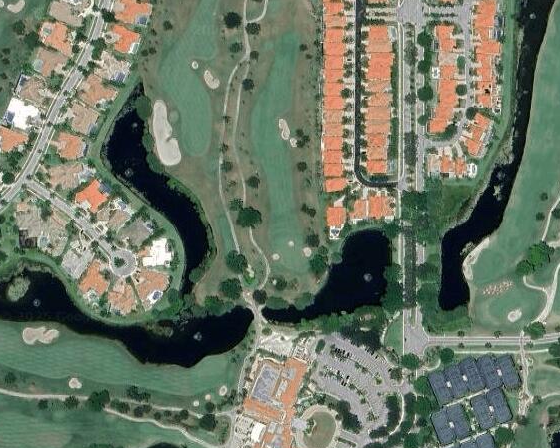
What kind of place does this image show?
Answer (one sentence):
What you see here is a residential area.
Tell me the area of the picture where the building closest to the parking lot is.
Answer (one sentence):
The building closest to the parking lot sits in the bottom section of the image.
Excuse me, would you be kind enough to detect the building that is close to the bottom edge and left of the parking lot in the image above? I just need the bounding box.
[241,356,310,448]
